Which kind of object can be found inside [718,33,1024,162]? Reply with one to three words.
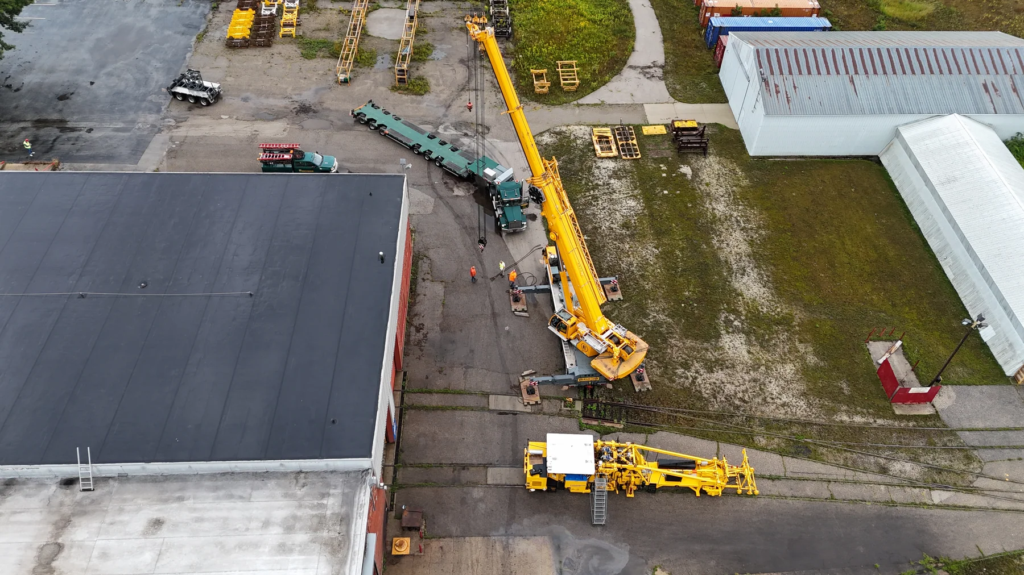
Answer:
shed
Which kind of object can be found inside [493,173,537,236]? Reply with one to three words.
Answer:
truck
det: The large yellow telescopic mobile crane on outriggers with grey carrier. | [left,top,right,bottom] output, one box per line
[463,19,647,394]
